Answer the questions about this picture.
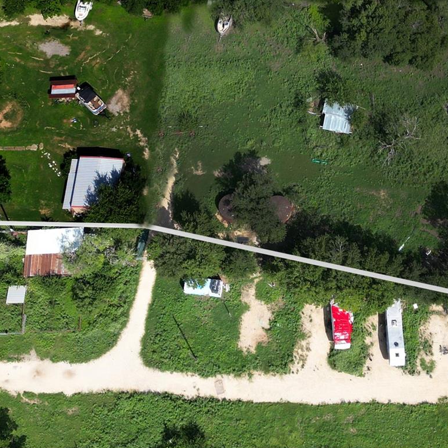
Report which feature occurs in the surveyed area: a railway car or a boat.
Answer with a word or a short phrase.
boat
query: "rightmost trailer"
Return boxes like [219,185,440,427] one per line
[384,302,406,377]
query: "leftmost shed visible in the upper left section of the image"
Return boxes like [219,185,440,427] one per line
[50,79,79,99]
